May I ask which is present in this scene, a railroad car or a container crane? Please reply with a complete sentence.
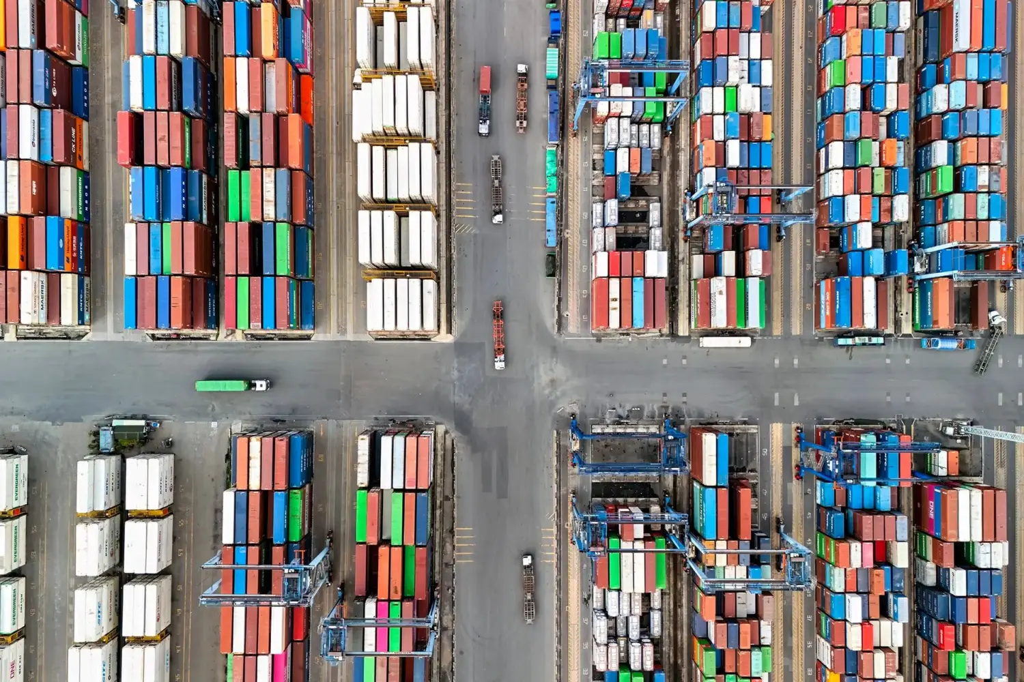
There is a container crane in the scene.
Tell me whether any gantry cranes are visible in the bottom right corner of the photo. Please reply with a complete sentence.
Yes, a gantry crane shows up in the bottom right corner of the photo.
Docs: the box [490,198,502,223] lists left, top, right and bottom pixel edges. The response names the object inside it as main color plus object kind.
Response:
white vehicle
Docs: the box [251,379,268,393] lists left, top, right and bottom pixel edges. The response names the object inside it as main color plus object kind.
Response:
white vehicle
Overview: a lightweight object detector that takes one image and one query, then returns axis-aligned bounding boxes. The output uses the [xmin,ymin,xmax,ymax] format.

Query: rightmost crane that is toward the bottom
[934,418,1024,445]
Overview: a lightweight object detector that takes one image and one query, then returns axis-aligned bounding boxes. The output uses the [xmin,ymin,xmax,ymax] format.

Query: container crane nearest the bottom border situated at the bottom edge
[319,577,444,660]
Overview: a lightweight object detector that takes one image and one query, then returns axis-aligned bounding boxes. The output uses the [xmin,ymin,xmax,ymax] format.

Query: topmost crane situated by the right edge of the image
[903,241,1024,293]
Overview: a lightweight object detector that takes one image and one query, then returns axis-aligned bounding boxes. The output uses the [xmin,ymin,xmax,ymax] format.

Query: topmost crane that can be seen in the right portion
[569,60,689,137]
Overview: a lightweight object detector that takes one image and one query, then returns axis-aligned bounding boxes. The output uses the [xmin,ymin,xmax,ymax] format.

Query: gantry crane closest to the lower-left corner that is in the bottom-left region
[203,529,334,607]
